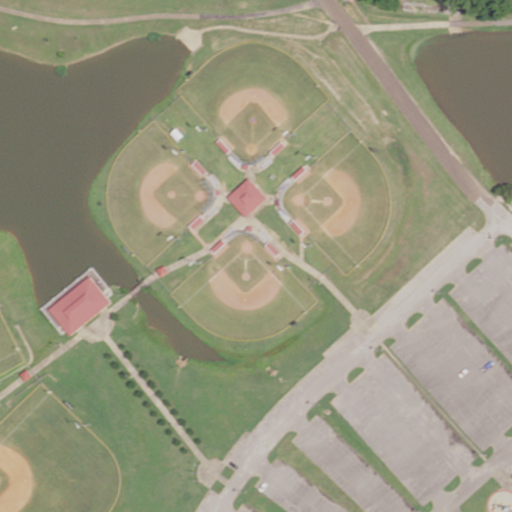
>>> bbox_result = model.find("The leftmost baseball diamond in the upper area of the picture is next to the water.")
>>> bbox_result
[108,122,216,265]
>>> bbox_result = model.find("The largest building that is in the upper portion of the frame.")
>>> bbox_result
[227,178,265,218]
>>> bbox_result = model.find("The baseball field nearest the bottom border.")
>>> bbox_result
[0,385,120,512]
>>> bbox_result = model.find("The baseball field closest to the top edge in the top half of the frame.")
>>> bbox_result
[178,42,328,167]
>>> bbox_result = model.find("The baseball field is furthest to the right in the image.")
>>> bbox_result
[282,132,388,274]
